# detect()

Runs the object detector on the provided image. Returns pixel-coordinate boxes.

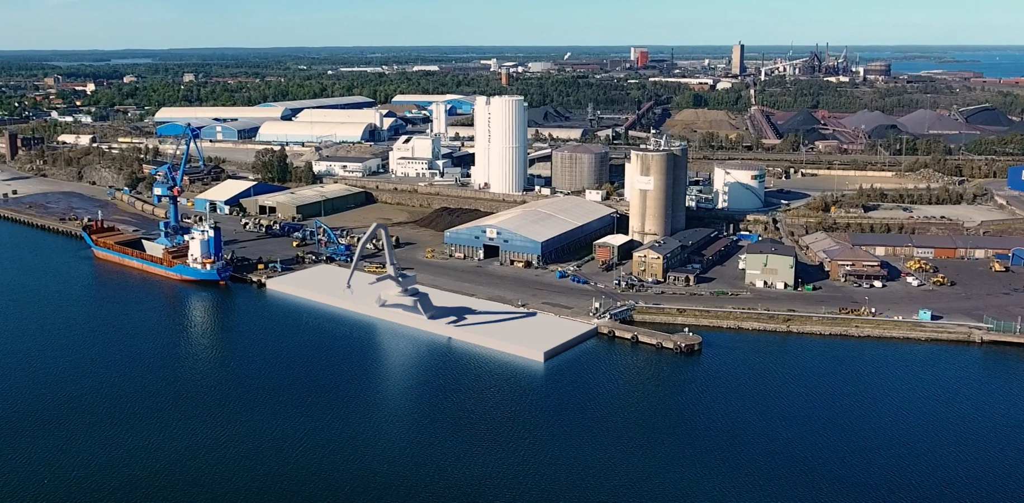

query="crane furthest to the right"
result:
[344,221,443,319]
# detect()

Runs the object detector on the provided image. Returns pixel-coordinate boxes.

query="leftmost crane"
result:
[146,121,205,243]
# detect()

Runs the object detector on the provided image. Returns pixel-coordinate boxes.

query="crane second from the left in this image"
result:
[314,219,354,263]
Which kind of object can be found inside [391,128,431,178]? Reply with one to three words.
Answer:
building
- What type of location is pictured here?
port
